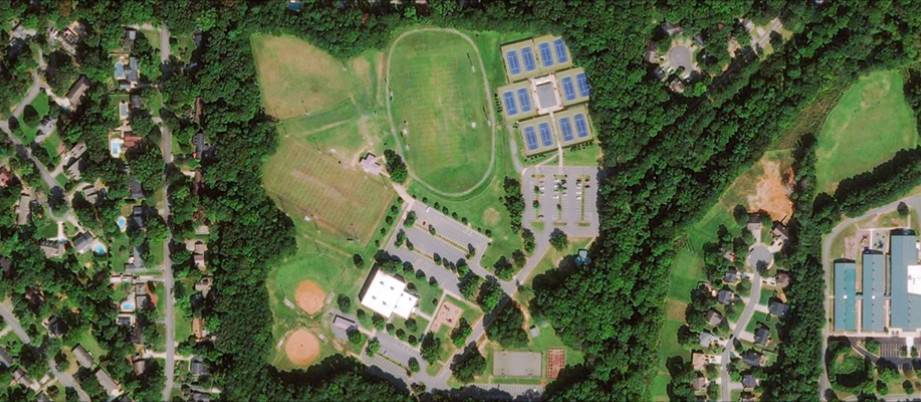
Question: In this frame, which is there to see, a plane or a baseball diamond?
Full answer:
I can see a baseball diamond in this picture.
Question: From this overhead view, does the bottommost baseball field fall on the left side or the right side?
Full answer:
The bottommost baseball field appears in the left half of the scene.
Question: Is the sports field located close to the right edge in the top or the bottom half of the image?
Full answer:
The top half of the photo is where the sports field located close to the right edge is.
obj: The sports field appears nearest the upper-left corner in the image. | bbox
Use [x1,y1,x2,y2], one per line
[251,34,353,119]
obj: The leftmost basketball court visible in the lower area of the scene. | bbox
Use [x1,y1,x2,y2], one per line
[493,351,541,376]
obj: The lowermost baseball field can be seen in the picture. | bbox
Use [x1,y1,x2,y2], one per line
[275,326,327,368]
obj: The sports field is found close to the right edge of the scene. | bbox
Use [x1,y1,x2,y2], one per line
[813,70,918,193]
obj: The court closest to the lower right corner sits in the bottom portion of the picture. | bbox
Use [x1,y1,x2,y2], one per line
[548,348,565,379]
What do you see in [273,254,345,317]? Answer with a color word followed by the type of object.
green baseball field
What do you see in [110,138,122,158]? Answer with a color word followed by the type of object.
white swimming pool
